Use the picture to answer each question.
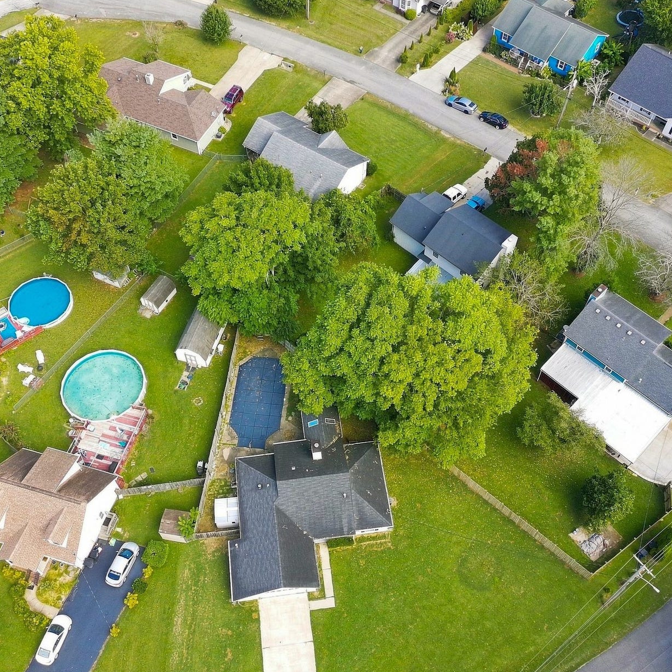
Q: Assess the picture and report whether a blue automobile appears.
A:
Yes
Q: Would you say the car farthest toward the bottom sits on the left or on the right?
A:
left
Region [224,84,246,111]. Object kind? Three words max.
car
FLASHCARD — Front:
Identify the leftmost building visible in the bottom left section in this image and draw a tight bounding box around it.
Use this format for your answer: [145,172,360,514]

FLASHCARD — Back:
[0,445,122,591]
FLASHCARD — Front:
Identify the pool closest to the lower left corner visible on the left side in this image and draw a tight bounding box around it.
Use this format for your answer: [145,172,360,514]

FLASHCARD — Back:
[60,349,147,427]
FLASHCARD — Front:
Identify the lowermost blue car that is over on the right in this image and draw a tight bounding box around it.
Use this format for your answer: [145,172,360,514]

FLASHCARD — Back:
[464,190,491,211]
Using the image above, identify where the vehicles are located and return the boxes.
[464,190,491,211]
[224,84,246,111]
[446,96,479,114]
[31,614,73,667]
[443,180,472,200]
[102,541,141,589]
[478,112,511,131]
[430,0,449,13]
